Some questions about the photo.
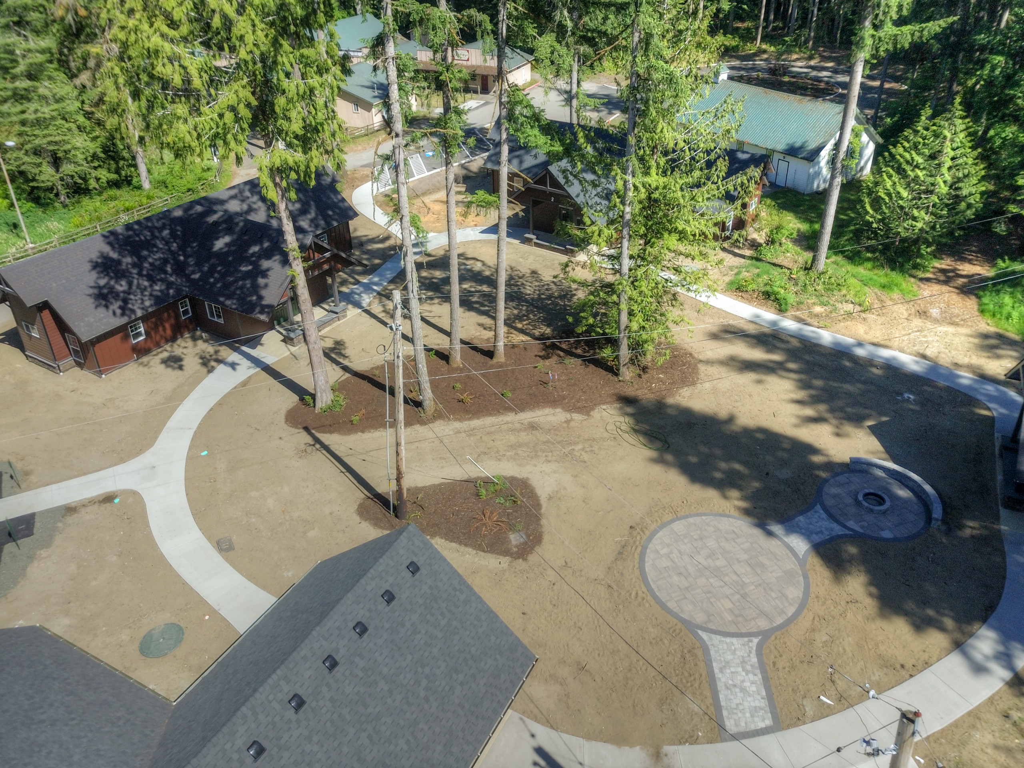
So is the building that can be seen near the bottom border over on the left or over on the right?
left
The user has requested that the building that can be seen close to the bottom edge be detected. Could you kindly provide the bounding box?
[0,528,537,768]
